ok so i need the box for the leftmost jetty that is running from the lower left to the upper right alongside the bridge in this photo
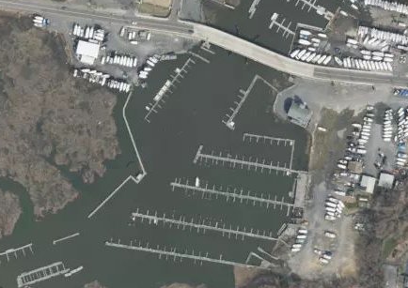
[145,43,214,123]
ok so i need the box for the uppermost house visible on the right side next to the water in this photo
[287,102,312,126]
